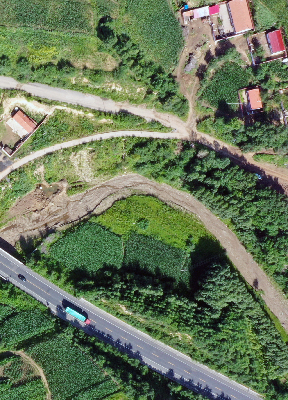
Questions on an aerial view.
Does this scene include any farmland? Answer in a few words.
Yes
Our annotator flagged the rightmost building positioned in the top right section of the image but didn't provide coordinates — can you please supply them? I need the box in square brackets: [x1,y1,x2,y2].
[264,31,285,56]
